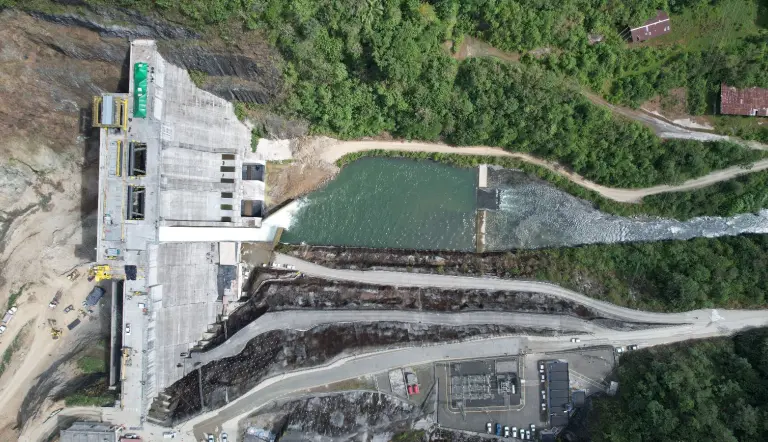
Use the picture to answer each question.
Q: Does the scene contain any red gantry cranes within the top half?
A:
No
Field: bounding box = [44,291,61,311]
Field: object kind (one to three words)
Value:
vehicle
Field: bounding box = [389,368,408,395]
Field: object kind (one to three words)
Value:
shed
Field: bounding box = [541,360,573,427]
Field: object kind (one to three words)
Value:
building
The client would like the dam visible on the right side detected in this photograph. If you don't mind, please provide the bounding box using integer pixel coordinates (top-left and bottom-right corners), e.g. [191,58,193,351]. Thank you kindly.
[476,164,498,254]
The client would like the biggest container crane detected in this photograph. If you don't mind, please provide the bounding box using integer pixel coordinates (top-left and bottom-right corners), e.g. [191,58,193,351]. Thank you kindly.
[92,94,134,134]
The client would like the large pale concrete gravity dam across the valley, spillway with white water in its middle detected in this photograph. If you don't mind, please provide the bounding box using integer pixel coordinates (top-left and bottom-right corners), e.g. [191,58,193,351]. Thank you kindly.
[96,41,268,430]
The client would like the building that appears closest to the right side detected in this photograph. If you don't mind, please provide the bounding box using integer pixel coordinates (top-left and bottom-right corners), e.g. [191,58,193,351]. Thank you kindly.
[715,85,768,119]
